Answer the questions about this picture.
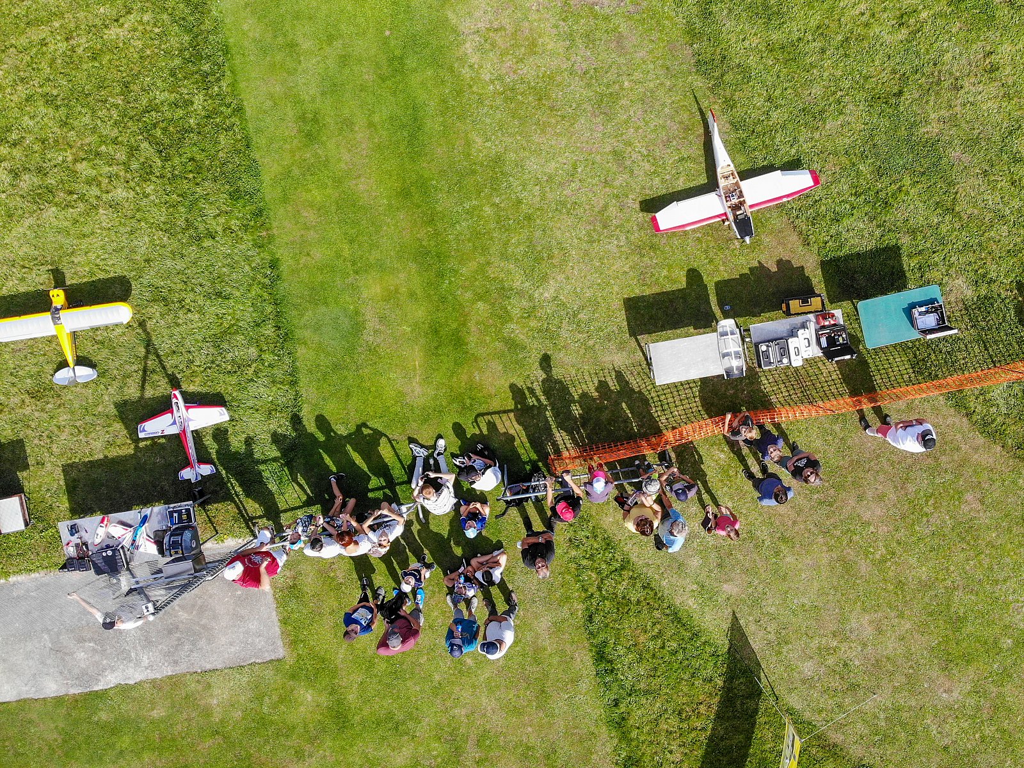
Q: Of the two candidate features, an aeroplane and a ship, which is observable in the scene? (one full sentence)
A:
This aerial view contains an aeroplane.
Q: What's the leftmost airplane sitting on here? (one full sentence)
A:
It looks like the leftmost airplane is sitting on the grass.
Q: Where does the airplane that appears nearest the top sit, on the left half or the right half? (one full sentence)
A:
The airplane that appears nearest the top is on the right side of the image.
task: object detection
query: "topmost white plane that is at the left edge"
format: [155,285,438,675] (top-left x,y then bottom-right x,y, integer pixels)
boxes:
[0,287,134,387]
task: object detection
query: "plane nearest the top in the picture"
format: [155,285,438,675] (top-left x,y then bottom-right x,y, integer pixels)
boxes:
[651,108,821,244]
